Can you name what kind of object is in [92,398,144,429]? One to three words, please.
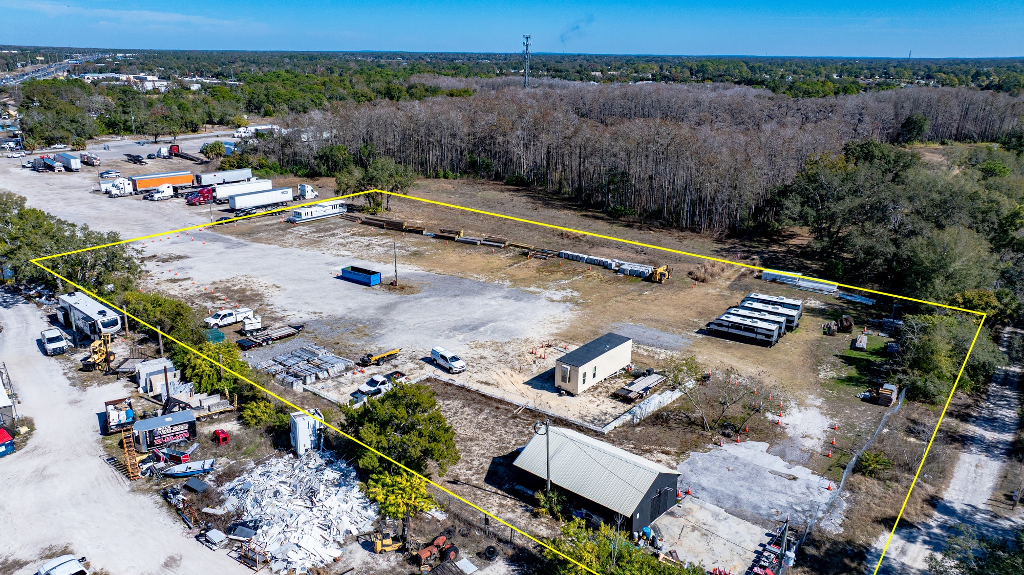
trailer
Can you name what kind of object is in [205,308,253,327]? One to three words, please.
vehicle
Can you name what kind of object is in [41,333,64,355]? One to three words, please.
truck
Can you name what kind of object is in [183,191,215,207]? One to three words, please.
vehicle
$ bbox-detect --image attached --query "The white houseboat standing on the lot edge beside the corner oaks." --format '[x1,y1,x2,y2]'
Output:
[282,201,340,222]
